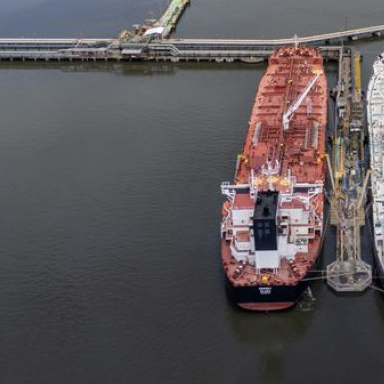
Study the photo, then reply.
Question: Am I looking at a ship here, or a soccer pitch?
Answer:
ship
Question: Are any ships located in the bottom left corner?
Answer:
No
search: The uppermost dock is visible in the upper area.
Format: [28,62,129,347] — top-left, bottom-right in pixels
[151,0,191,38]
